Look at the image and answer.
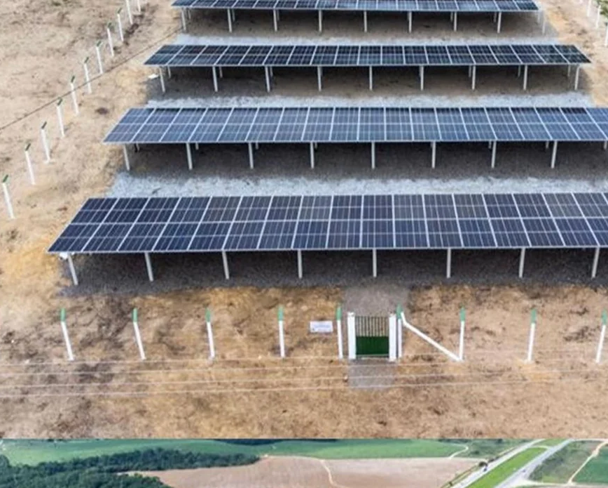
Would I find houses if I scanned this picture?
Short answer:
No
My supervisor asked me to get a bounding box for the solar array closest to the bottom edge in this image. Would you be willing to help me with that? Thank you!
[48,193,608,284]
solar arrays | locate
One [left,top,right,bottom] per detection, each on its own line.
[104,106,608,168]
[173,0,546,31]
[145,44,593,91]
[48,193,608,284]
